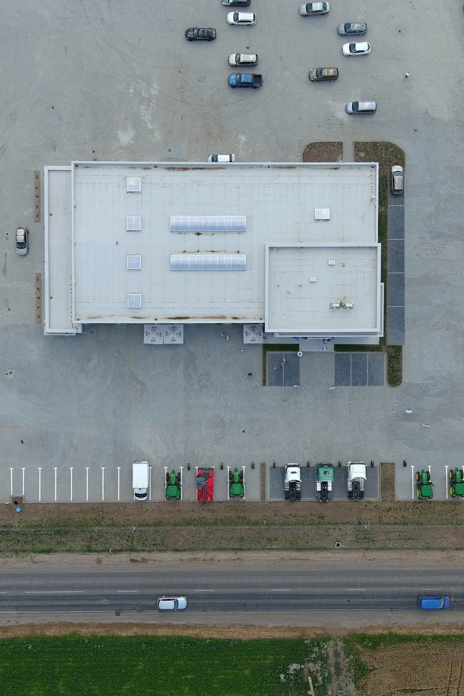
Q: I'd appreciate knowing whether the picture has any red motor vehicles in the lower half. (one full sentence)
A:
No, no red motor vehicle appears in the lower half.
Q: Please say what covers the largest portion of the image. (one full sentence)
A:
The bulk of the photo consists of paved ground.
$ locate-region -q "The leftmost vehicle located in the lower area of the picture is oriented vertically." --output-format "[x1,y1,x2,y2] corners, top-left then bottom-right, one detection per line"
[131,458,149,501]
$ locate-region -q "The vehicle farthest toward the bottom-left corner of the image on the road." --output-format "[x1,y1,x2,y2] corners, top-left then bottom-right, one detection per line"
[157,596,187,612]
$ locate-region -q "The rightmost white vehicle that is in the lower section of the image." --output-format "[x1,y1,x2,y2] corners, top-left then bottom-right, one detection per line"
[348,459,368,499]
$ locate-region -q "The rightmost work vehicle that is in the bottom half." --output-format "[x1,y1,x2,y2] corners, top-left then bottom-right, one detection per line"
[448,466,464,497]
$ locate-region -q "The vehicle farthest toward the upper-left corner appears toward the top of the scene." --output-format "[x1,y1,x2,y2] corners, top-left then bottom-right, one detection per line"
[185,26,217,41]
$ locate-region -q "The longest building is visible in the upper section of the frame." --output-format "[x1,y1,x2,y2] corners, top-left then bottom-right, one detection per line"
[42,153,384,337]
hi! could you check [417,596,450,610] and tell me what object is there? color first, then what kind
blue vehicle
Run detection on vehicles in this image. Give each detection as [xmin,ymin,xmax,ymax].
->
[315,462,335,502]
[417,596,450,610]
[299,1,330,16]
[228,72,262,88]
[346,99,376,114]
[391,166,405,195]
[337,21,368,36]
[448,466,464,497]
[227,10,256,25]
[165,468,182,500]
[229,52,258,67]
[348,459,368,499]
[14,226,29,257]
[222,0,252,7]
[283,462,303,501]
[157,596,187,612]
[185,26,217,41]
[414,468,434,500]
[131,458,149,501]
[310,65,338,81]
[207,152,236,162]
[342,41,371,56]
[228,466,244,497]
